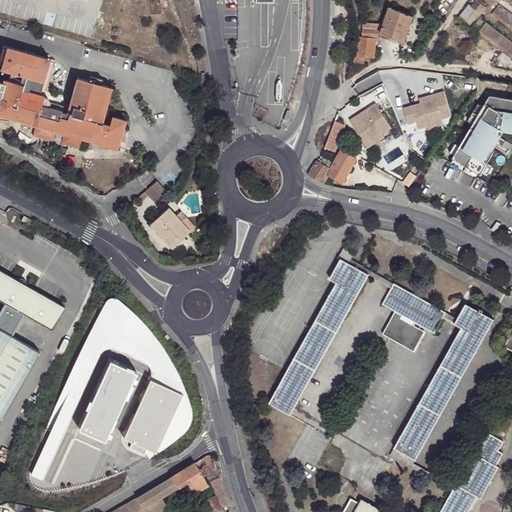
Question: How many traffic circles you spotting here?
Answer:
2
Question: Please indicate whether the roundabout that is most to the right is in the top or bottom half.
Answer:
top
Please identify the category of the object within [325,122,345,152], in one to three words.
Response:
shed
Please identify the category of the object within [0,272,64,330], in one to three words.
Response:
building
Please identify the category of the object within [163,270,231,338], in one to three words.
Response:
roundabout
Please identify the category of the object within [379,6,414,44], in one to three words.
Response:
house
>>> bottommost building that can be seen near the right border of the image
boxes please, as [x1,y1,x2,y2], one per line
[440,437,504,512]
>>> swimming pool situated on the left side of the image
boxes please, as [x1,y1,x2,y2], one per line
[182,192,201,214]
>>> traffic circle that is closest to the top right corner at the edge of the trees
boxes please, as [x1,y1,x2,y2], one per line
[217,135,304,221]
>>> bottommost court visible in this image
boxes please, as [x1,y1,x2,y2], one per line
[246,236,345,369]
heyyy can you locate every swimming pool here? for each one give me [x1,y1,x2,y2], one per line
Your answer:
[384,146,404,165]
[496,154,506,166]
[182,192,201,214]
